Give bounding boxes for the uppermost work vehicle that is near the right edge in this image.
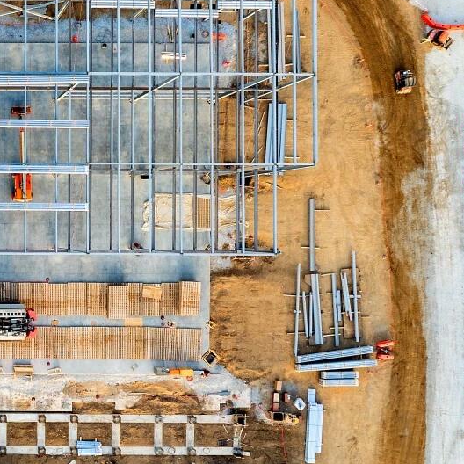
[430,24,459,54]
